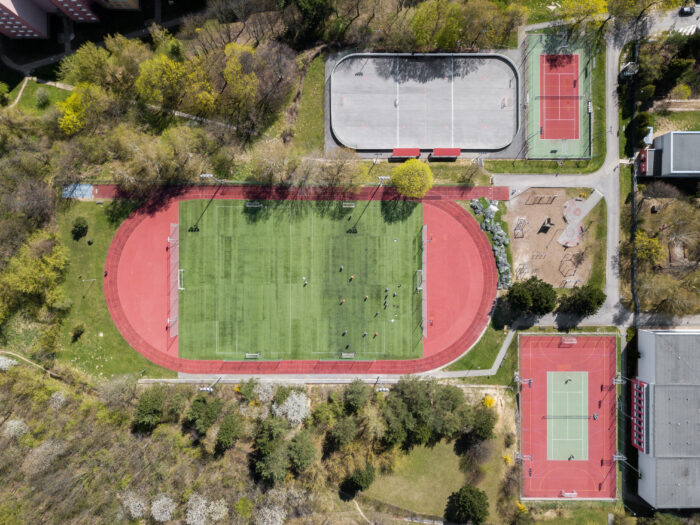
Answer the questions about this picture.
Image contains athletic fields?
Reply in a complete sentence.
Yes, there's an athletic field down there.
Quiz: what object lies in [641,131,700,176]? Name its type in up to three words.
building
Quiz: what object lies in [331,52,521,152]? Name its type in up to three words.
sports court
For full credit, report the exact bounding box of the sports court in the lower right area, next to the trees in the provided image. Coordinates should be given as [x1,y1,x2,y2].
[517,334,618,501]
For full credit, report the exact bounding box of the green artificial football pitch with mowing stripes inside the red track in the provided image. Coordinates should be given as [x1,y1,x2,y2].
[178,200,423,360]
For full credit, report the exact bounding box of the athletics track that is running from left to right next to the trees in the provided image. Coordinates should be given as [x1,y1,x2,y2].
[93,184,509,376]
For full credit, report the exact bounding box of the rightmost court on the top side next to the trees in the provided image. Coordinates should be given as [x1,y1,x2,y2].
[528,33,591,158]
